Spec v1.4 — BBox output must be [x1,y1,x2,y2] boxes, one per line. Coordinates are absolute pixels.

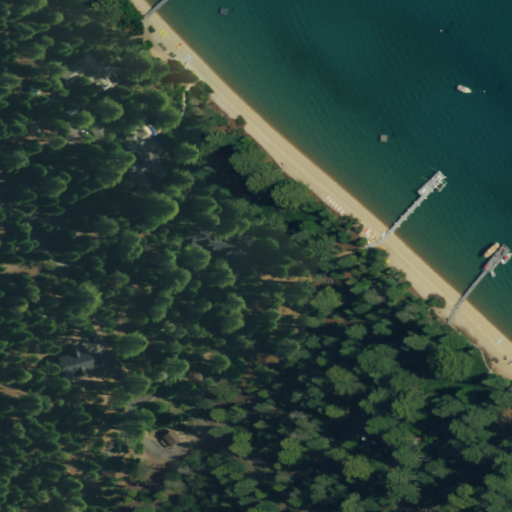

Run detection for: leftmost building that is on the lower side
[60,350,94,376]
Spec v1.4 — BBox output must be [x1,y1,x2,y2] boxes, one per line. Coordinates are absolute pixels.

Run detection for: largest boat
[482,244,499,259]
